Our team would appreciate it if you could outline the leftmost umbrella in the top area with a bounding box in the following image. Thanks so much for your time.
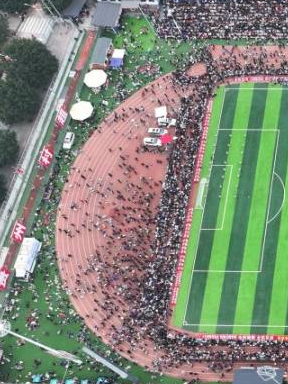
[71,101,93,120]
